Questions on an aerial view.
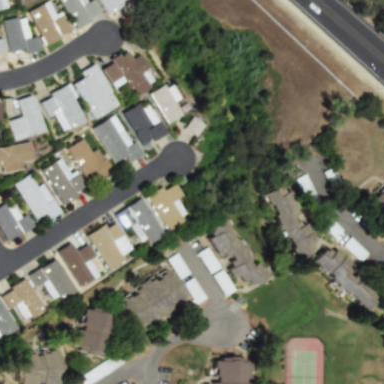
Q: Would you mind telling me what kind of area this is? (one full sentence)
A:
The area seen from above is a residential area.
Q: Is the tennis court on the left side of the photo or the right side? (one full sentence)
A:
The tennis court appears in the right half of the scene.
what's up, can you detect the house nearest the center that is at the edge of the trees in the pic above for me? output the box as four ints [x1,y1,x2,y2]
[150,186,188,230]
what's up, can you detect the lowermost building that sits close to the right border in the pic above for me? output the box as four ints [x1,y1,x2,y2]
[318,252,378,310]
